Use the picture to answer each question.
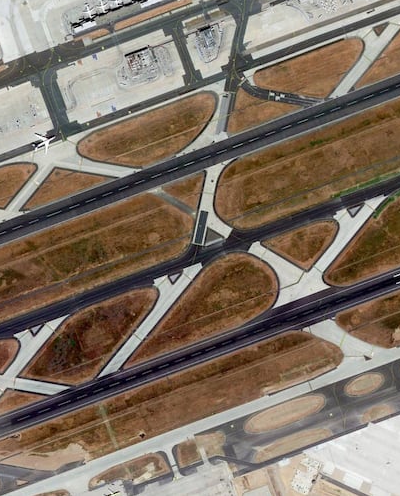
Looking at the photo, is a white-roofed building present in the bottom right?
Yes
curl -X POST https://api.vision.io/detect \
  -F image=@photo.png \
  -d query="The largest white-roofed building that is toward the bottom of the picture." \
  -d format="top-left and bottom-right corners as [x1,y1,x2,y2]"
[293,458,322,492]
